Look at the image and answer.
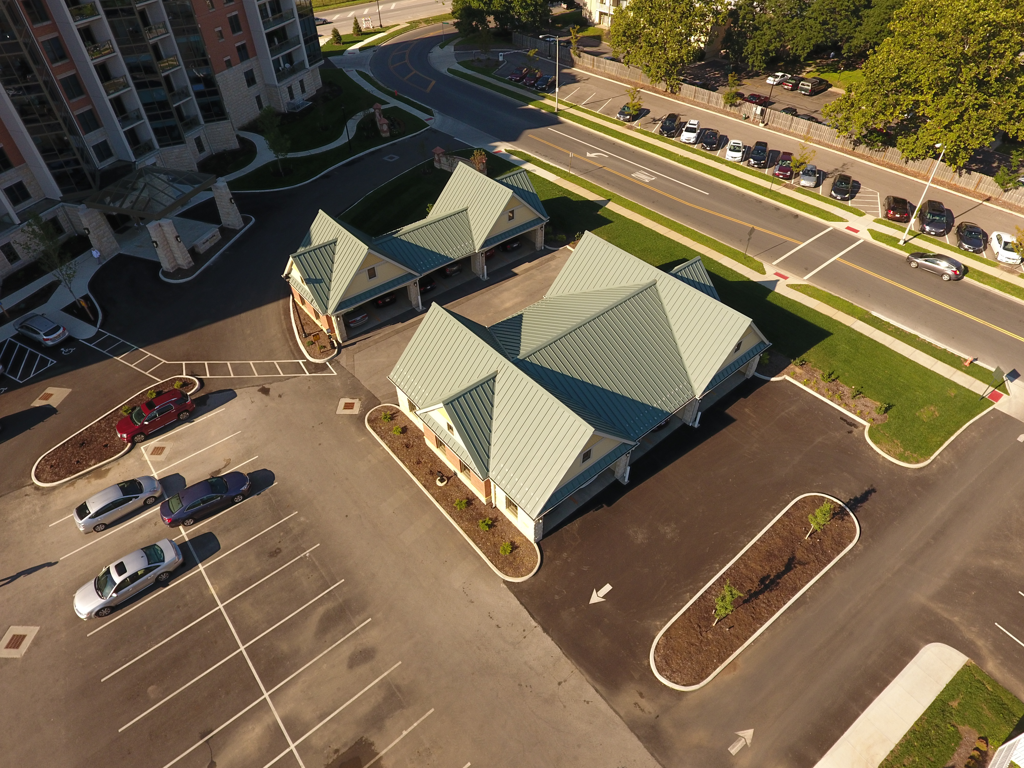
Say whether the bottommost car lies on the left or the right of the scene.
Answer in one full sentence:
The bottommost car appears in the left half of the scene.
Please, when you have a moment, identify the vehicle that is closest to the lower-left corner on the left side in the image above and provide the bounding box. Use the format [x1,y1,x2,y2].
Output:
[71,542,178,622]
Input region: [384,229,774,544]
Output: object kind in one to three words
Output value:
building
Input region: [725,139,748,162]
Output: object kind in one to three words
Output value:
car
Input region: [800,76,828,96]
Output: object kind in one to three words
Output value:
vehicle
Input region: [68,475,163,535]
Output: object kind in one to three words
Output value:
car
